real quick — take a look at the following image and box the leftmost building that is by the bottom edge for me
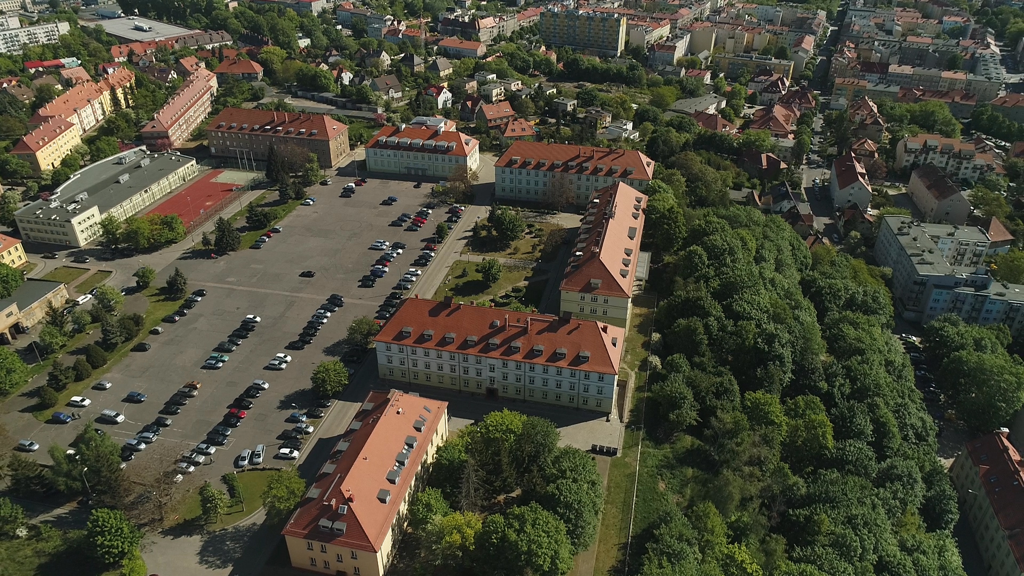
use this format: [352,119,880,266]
[281,389,450,576]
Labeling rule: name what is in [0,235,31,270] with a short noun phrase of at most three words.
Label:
house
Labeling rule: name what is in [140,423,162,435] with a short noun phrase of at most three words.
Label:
vehicle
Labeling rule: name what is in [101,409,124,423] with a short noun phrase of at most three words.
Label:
vehicle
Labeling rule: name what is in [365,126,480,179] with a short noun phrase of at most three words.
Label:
building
